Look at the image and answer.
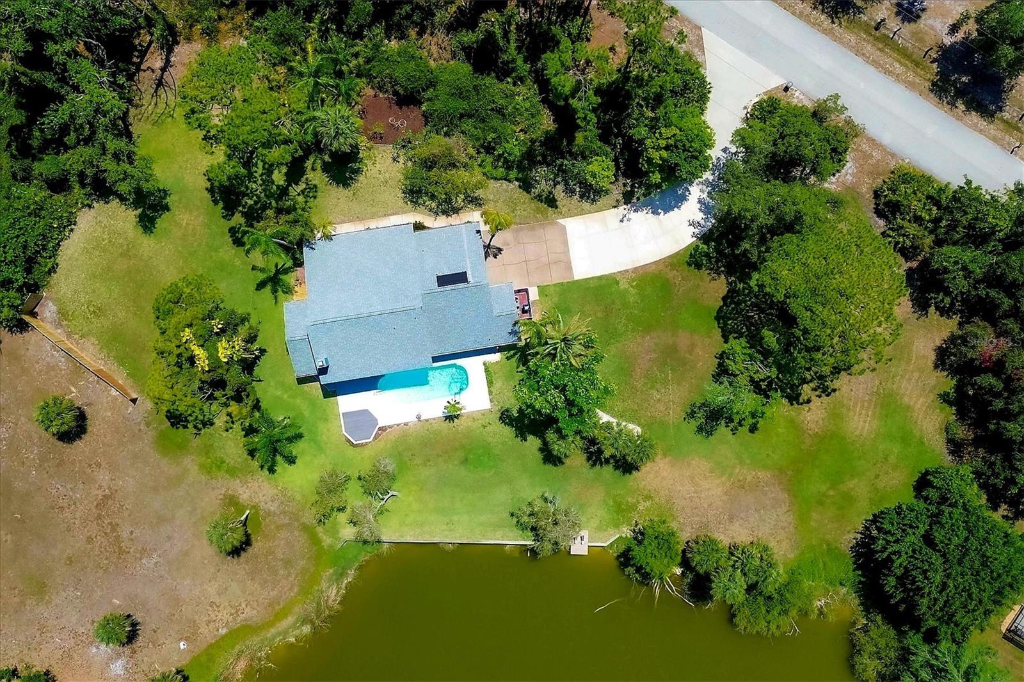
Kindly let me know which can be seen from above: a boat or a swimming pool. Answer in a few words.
swimming pool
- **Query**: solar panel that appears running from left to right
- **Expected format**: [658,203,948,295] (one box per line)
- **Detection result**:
[436,270,468,286]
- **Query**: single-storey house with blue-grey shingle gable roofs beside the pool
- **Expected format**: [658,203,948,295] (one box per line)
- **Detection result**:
[284,221,521,385]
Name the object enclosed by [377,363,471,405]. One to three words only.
swimming pool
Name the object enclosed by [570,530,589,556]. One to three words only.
pier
